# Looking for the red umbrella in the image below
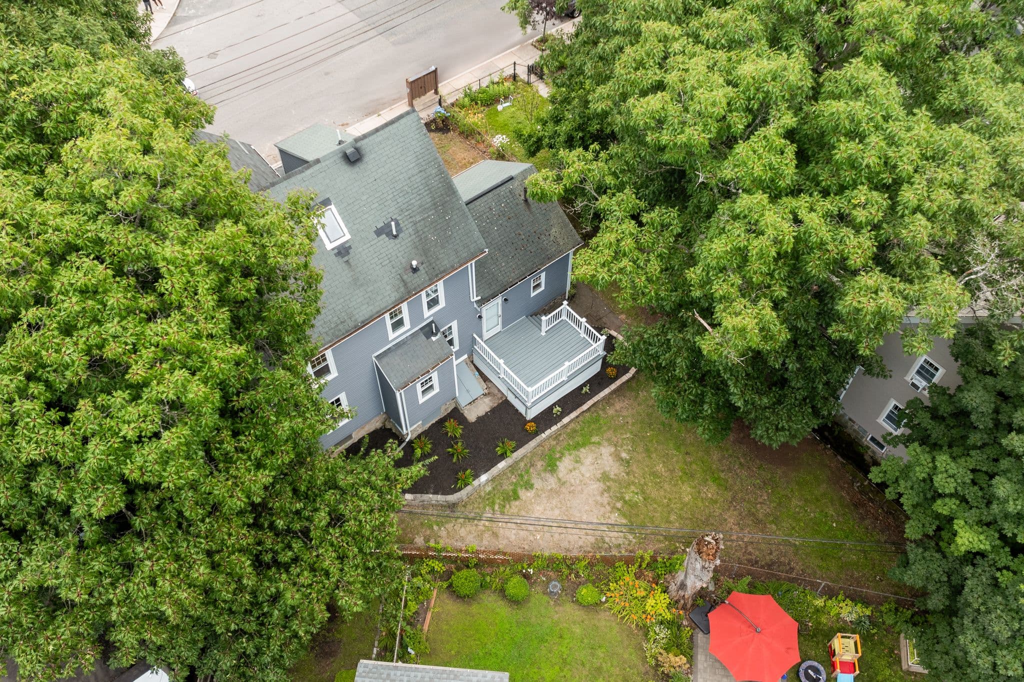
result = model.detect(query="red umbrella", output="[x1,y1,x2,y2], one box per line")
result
[688,591,802,682]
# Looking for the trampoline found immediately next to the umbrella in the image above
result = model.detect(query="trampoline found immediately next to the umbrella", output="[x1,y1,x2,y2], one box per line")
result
[799,662,828,682]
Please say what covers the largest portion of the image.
trees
